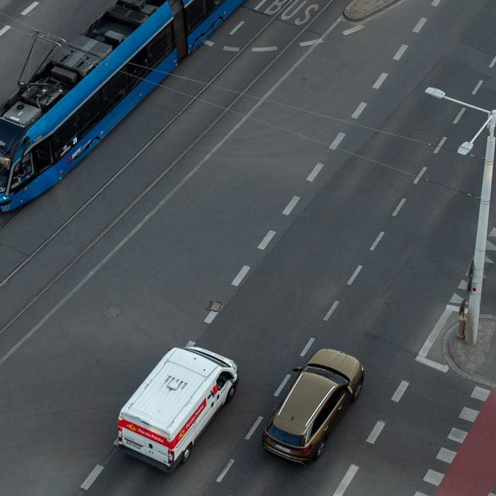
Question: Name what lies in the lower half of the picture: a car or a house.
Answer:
car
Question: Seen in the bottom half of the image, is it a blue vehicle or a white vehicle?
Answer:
white vehicle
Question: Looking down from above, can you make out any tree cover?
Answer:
No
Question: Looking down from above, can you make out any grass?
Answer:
No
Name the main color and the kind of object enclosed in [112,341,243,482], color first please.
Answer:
white van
